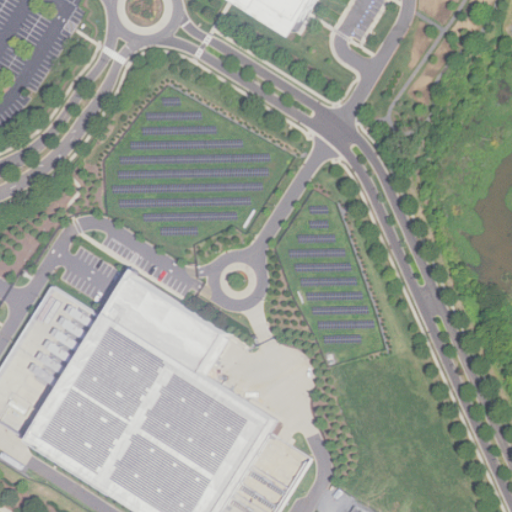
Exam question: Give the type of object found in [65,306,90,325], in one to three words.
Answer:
vehicle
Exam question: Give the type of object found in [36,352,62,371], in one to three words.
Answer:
vehicle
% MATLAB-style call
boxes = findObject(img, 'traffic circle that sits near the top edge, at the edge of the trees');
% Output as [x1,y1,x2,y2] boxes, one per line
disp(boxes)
[117,0,173,36]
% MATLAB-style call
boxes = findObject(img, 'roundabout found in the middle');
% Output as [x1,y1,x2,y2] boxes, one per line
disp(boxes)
[219,262,256,299]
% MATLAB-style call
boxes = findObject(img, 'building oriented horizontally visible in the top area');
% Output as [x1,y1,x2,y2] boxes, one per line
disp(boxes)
[224,0,312,37]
